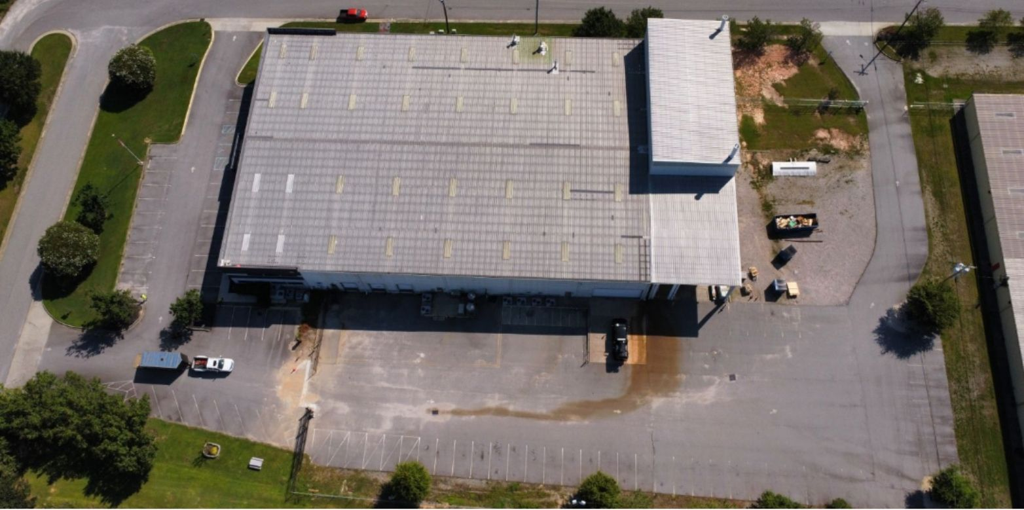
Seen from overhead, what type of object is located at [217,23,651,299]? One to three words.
warehouse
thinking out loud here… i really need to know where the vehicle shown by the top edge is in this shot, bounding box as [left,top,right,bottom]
[339,7,369,22]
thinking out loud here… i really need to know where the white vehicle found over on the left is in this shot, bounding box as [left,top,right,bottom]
[190,357,235,373]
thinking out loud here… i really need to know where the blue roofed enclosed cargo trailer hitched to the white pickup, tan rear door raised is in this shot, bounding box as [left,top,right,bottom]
[132,350,191,371]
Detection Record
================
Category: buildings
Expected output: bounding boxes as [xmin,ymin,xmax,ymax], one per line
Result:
[217,23,651,299]
[962,94,1024,460]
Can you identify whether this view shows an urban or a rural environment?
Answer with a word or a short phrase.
urban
